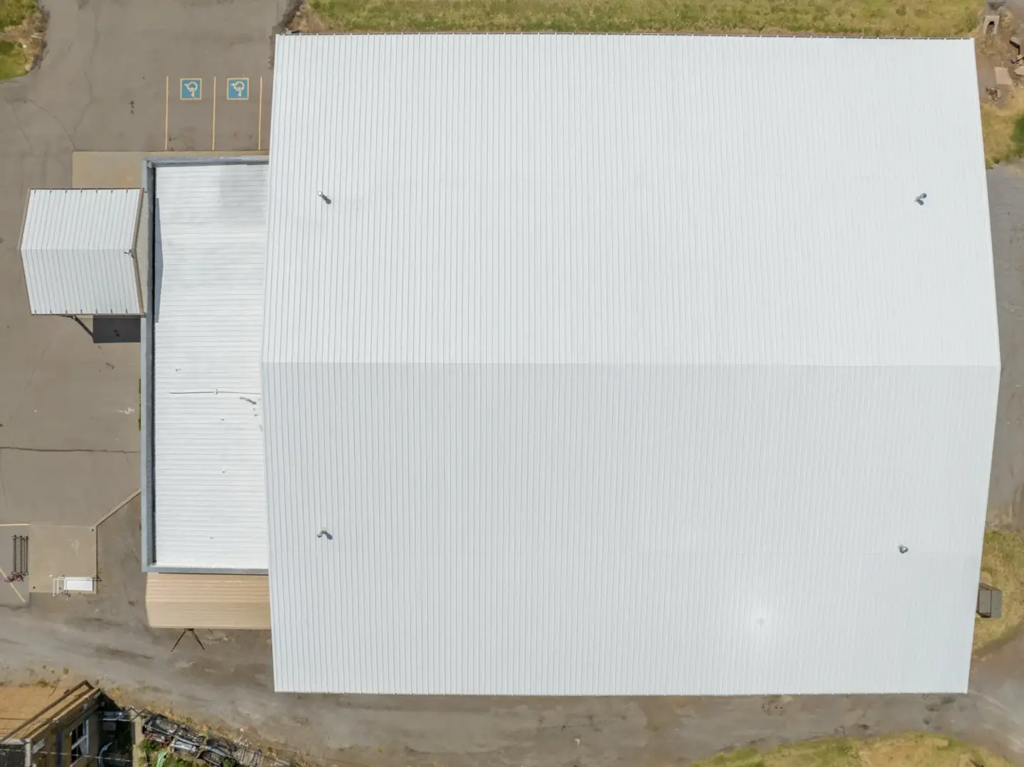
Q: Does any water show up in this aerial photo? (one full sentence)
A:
No, there is no water in the image.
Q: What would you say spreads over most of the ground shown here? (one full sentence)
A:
The scene is dominated by buildings.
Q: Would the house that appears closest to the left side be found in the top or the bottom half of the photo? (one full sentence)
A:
Seen from above, the house that appears closest to the left side lies in the bottom half of the view.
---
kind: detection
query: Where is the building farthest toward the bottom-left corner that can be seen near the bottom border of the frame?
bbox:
[0,681,100,767]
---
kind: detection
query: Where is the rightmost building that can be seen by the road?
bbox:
[260,33,1003,694]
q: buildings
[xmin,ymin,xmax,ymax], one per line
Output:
[0,681,100,767]
[260,33,1003,694]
